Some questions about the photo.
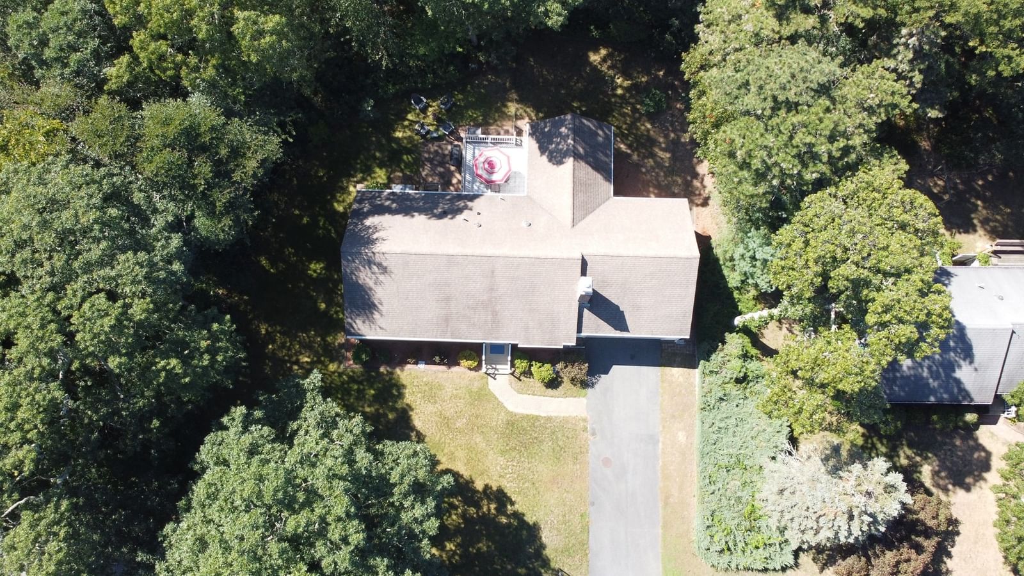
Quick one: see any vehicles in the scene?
No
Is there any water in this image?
No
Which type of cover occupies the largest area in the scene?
trees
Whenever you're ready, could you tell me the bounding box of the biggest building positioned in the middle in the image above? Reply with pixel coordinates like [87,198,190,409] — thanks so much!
[341,114,700,374]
